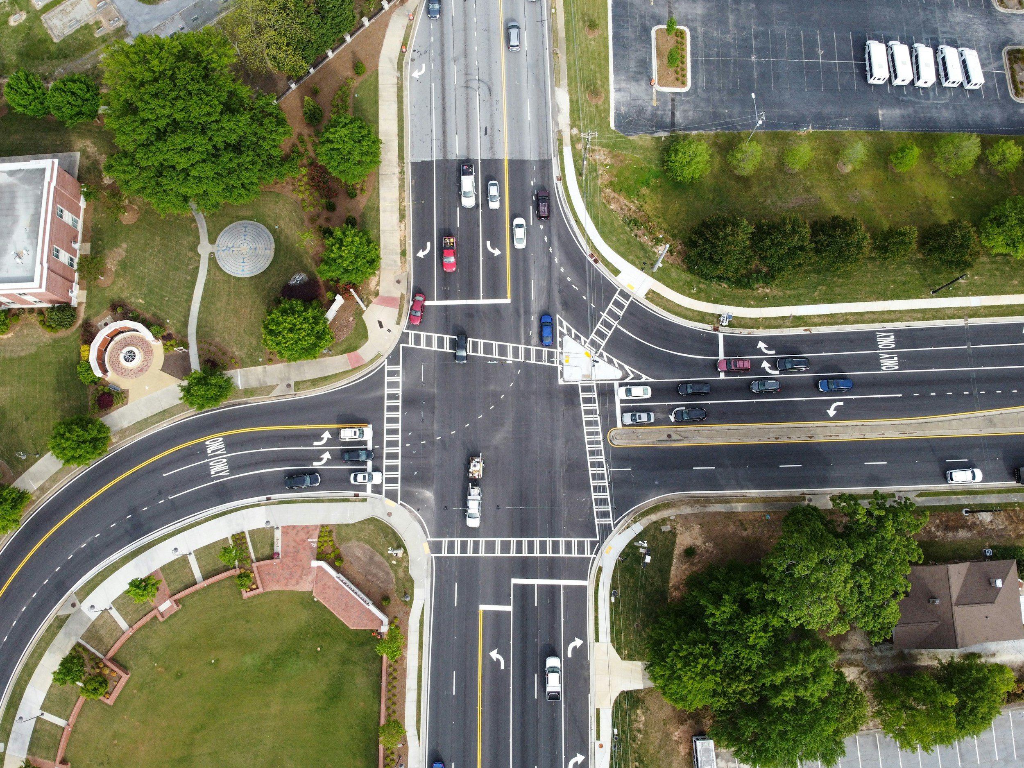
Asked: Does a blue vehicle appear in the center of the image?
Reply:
Yes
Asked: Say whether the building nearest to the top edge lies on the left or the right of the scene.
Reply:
left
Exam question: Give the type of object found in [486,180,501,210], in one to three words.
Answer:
car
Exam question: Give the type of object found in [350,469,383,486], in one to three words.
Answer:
car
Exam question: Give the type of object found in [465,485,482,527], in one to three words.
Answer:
vehicle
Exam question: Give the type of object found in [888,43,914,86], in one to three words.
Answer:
vehicle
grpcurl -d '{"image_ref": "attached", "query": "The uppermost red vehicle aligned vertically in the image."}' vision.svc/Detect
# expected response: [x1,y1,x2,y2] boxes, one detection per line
[441,236,457,272]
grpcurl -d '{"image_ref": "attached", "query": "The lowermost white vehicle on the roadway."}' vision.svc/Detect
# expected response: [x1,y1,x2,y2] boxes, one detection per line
[544,656,563,702]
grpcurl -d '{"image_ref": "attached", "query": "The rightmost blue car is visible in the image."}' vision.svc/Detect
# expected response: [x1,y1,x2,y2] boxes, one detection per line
[818,376,854,393]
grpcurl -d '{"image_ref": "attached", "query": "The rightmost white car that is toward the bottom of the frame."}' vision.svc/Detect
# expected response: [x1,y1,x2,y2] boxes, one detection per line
[945,467,983,484]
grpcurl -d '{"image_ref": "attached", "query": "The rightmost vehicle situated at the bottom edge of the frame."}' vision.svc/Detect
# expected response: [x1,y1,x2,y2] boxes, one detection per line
[694,735,718,768]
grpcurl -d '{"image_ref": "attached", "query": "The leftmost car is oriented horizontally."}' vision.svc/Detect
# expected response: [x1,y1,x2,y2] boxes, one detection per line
[284,472,321,489]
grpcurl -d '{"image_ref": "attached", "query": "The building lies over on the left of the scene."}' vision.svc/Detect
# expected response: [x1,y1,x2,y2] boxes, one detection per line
[0,156,84,310]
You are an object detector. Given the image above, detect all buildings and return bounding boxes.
[893,560,1024,649]
[0,156,84,310]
